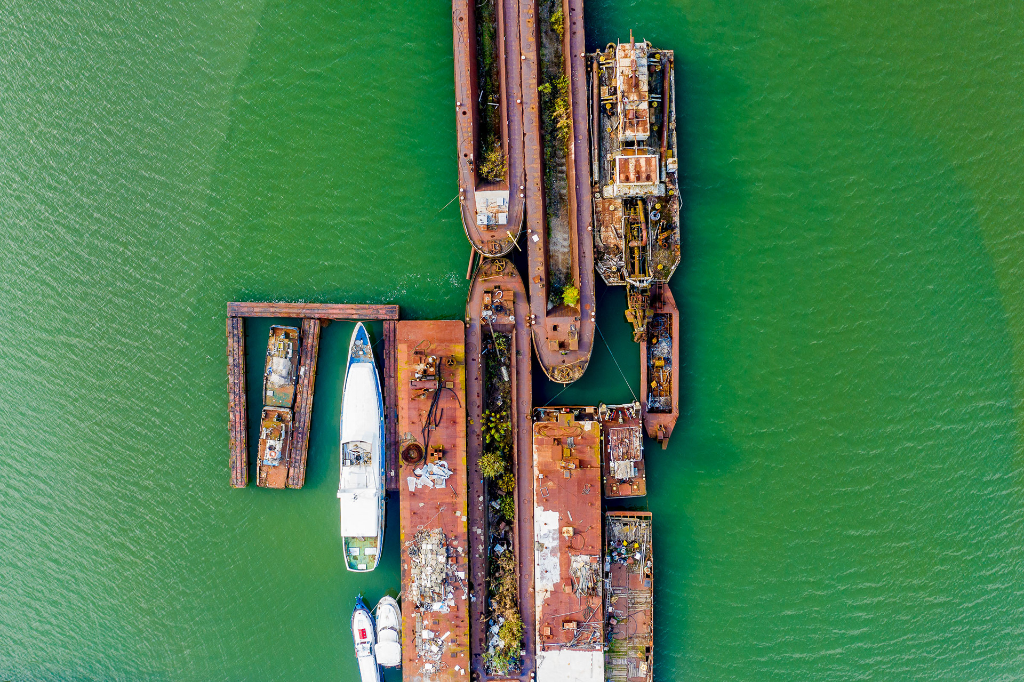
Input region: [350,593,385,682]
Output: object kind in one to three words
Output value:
boat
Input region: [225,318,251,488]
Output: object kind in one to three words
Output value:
pier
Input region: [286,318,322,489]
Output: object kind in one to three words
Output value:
pier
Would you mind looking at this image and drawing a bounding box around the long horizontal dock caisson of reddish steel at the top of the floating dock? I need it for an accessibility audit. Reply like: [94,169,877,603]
[227,302,401,320]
